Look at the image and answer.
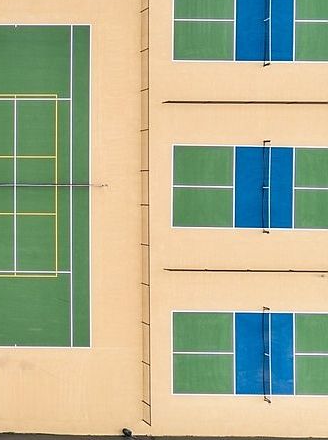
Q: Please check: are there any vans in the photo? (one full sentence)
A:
No, the scene contains no van.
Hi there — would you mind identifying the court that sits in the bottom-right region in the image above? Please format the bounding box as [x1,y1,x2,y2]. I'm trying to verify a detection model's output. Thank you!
[172,311,328,395]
